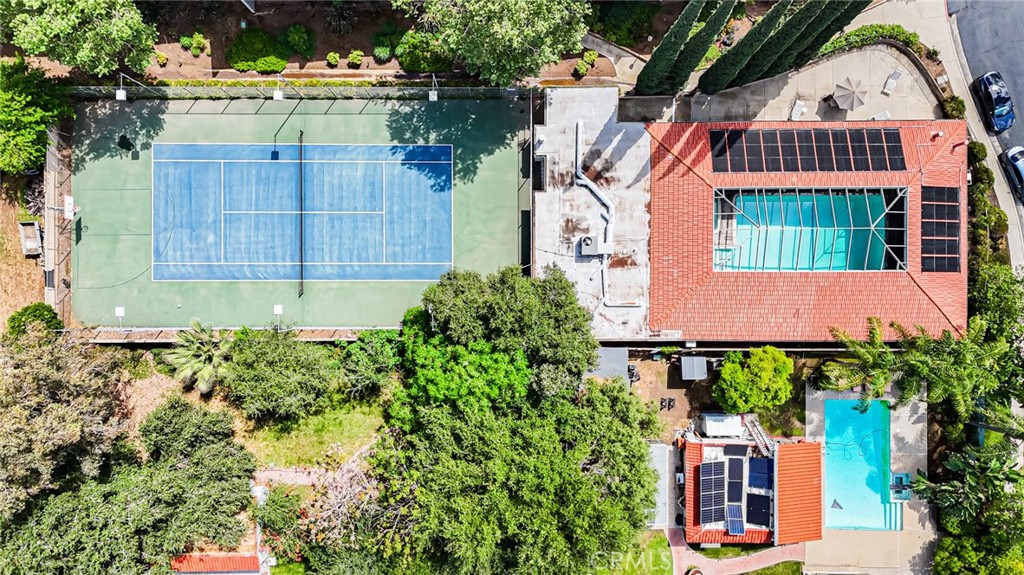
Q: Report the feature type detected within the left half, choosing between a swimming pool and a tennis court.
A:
tennis court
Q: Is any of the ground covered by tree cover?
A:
Yes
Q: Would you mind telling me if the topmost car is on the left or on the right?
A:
right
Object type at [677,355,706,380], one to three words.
shed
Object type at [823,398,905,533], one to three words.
swimming pool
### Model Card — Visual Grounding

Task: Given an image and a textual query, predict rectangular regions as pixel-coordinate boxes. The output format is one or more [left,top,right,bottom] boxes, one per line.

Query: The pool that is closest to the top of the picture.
[715,192,887,270]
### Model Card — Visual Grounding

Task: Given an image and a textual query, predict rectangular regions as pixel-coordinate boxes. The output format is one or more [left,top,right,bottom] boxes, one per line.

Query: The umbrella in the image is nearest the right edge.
[832,75,868,112]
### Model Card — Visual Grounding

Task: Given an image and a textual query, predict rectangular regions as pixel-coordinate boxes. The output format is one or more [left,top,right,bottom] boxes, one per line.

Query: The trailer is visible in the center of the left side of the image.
[11,211,44,255]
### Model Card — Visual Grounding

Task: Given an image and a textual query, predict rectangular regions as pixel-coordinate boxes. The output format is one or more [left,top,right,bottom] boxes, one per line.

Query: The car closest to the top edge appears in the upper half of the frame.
[974,70,1017,131]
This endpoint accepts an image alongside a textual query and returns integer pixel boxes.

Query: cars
[1002,146,1024,205]
[974,70,1017,131]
